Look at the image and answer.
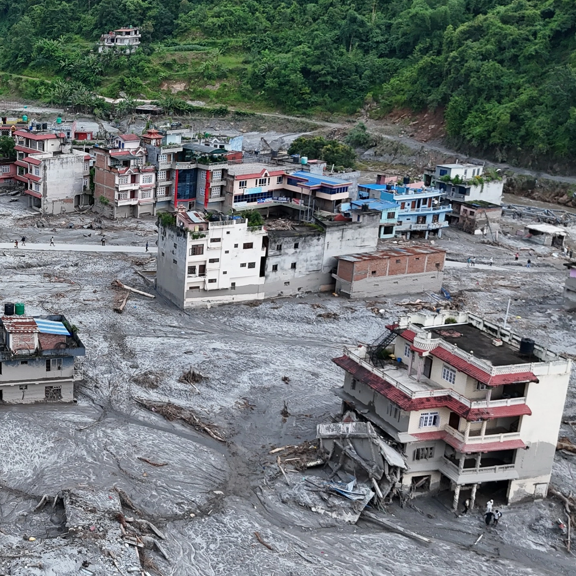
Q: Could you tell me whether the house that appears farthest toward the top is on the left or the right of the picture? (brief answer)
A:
left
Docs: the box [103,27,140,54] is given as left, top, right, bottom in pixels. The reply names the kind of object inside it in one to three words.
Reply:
house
